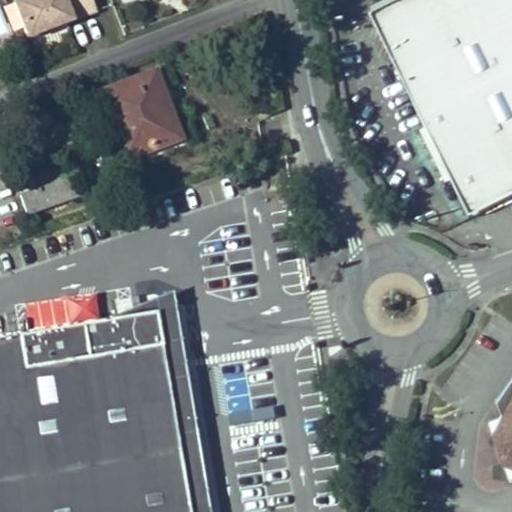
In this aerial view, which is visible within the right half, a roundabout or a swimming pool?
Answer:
roundabout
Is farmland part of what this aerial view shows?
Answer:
No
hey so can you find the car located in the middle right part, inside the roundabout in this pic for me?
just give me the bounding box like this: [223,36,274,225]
[425,274,440,296]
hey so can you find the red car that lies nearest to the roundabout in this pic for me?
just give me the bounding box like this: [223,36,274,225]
[478,334,500,351]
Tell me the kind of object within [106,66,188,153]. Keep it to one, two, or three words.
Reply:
house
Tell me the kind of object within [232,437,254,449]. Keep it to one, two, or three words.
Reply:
vehicle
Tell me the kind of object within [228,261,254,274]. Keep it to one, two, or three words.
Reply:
vehicle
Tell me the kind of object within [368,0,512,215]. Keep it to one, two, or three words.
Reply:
warehouse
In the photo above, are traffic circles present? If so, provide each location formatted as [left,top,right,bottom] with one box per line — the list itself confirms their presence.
[334,241,460,367]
